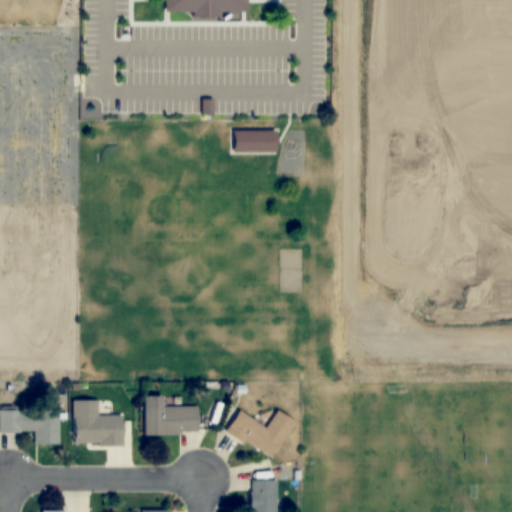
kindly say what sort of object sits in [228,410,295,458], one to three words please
house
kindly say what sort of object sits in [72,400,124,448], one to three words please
house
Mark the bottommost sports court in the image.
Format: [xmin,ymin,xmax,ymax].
[280,271,302,292]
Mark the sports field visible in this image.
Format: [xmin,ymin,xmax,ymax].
[302,382,512,512]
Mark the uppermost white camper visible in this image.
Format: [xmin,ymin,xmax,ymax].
[210,401,226,426]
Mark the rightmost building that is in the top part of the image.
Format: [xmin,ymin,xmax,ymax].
[230,128,280,156]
